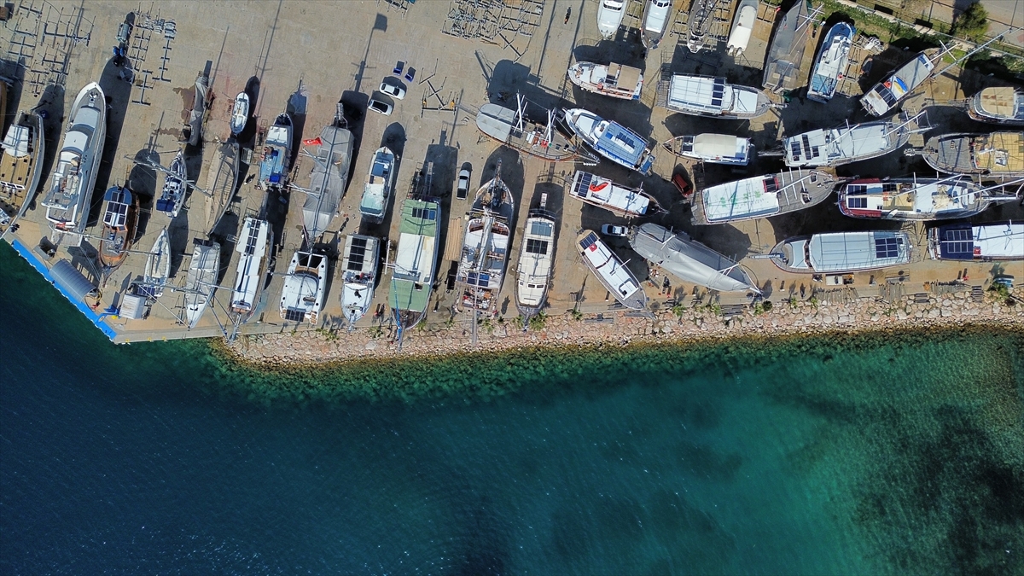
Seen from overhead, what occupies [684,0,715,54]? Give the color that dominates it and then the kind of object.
gray boat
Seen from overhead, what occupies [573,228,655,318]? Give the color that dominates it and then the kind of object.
white boat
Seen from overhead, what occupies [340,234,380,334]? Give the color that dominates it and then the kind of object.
white boat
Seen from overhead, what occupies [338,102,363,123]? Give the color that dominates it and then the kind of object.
black car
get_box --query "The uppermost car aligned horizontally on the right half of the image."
[601,222,629,236]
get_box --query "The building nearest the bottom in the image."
[118,291,149,321]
